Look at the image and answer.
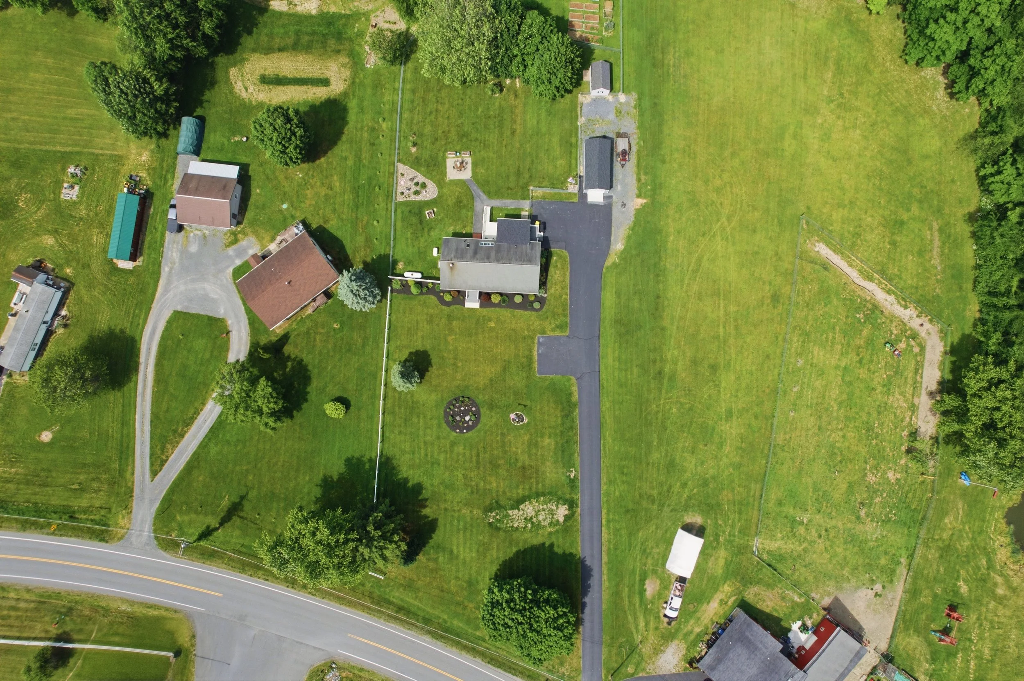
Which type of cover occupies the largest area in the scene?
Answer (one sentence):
The scene is dominated by grass.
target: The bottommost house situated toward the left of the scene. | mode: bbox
[0,281,66,373]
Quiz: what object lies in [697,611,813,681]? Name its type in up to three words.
barn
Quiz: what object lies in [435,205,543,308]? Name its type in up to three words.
house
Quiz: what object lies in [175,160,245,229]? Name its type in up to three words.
building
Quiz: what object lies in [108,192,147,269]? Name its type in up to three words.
shed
